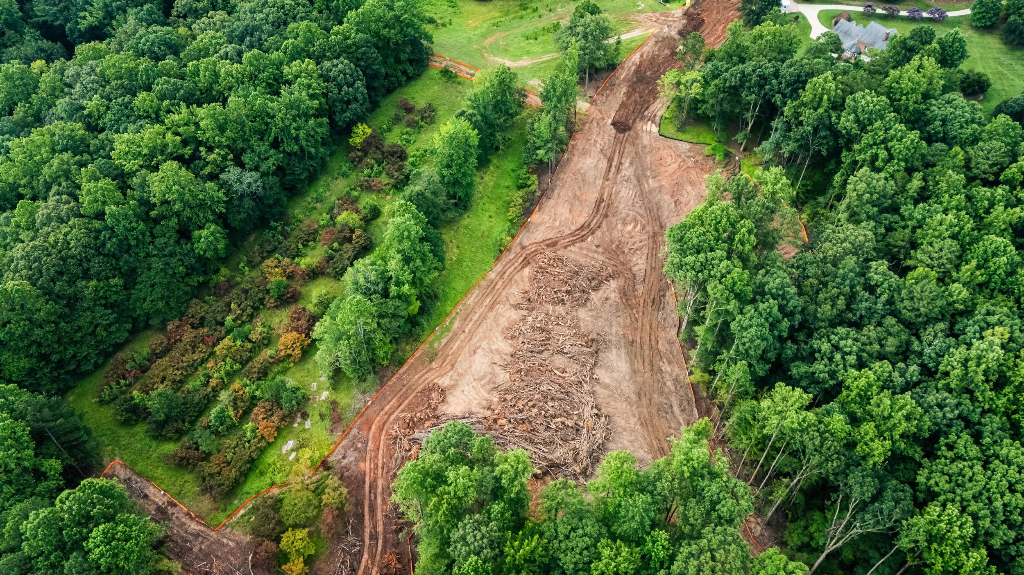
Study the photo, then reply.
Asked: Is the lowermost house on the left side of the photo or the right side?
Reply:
right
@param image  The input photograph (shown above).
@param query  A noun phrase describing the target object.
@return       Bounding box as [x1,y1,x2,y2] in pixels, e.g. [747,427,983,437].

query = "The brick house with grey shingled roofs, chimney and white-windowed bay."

[834,18,905,61]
